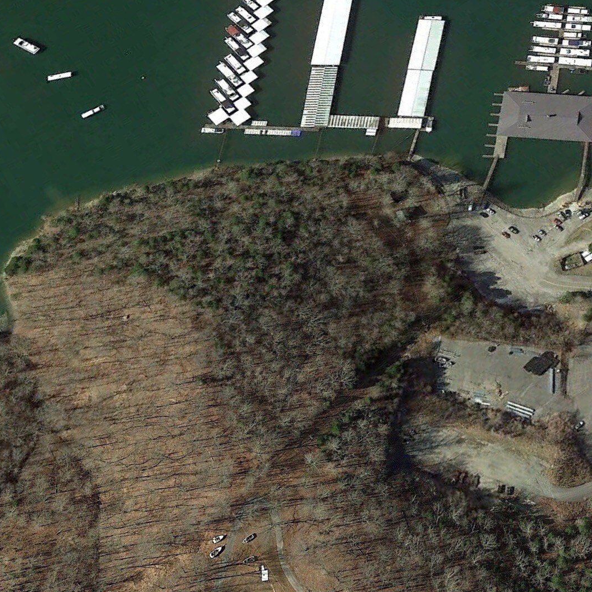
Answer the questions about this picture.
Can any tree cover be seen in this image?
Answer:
Yes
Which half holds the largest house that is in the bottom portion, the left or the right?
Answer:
right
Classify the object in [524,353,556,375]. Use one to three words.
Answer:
house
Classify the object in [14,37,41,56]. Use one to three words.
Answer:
boat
